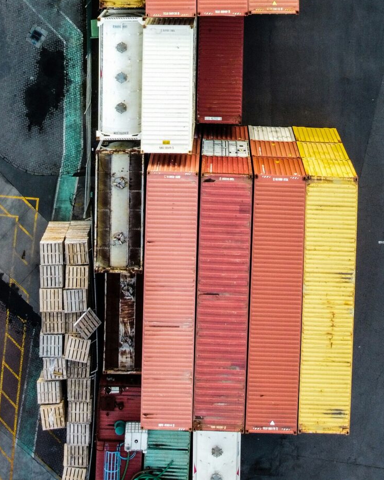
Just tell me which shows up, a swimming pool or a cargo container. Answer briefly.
cargo container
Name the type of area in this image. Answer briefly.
industrial area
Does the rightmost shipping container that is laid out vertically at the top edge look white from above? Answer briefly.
No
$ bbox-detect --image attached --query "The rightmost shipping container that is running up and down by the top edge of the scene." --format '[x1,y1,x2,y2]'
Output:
[198,15,242,124]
